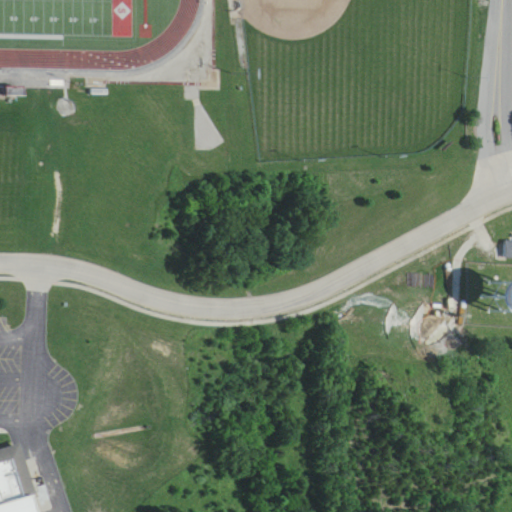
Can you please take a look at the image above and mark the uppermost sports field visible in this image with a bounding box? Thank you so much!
[0,0,180,49]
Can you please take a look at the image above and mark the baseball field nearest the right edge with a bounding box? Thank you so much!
[236,0,472,160]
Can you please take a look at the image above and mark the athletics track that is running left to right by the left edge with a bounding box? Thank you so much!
[0,0,204,72]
